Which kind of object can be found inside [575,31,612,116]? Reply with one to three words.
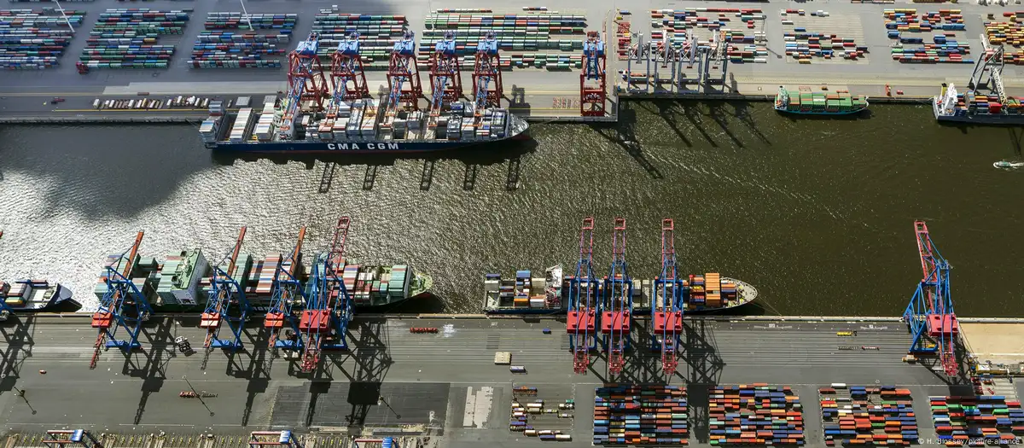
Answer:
container crane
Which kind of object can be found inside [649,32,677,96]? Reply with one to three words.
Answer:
container crane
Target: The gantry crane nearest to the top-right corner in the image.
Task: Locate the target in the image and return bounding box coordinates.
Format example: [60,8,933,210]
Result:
[964,30,1011,99]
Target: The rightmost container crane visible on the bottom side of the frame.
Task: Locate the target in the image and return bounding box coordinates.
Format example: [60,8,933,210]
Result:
[899,222,961,377]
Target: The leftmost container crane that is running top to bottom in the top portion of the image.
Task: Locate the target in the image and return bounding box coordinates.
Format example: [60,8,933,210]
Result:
[270,31,326,132]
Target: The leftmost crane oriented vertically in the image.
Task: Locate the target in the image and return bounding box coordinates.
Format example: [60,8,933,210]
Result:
[84,231,159,369]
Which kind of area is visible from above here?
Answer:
port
